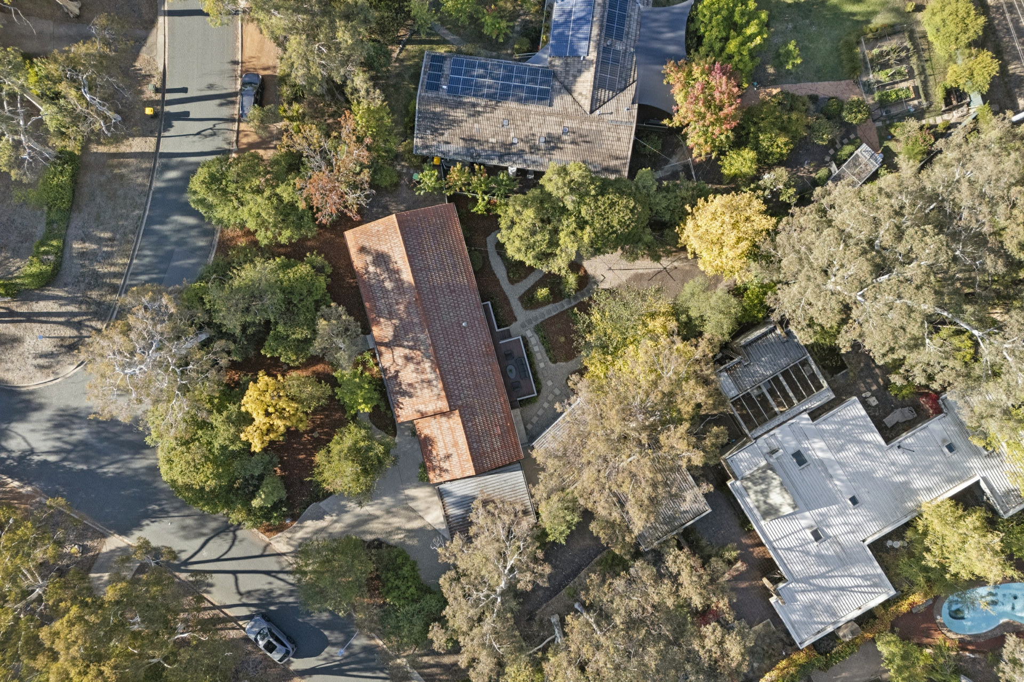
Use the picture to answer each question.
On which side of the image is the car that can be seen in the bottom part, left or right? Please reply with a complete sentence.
The car that can be seen in the bottom part sits on the left side.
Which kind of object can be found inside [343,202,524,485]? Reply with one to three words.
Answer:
house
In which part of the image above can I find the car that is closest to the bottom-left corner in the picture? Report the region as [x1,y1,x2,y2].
[238,609,303,669]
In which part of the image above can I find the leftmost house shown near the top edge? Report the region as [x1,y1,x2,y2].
[412,0,643,182]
